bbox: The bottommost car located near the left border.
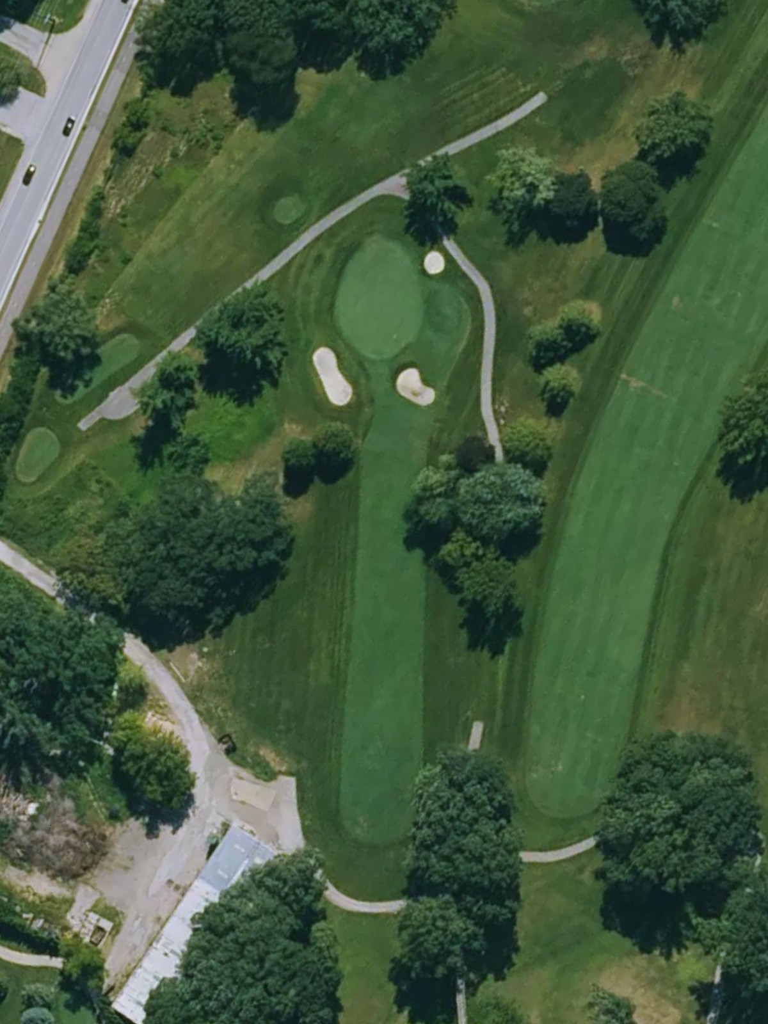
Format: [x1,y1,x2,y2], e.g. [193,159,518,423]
[22,163,36,185]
